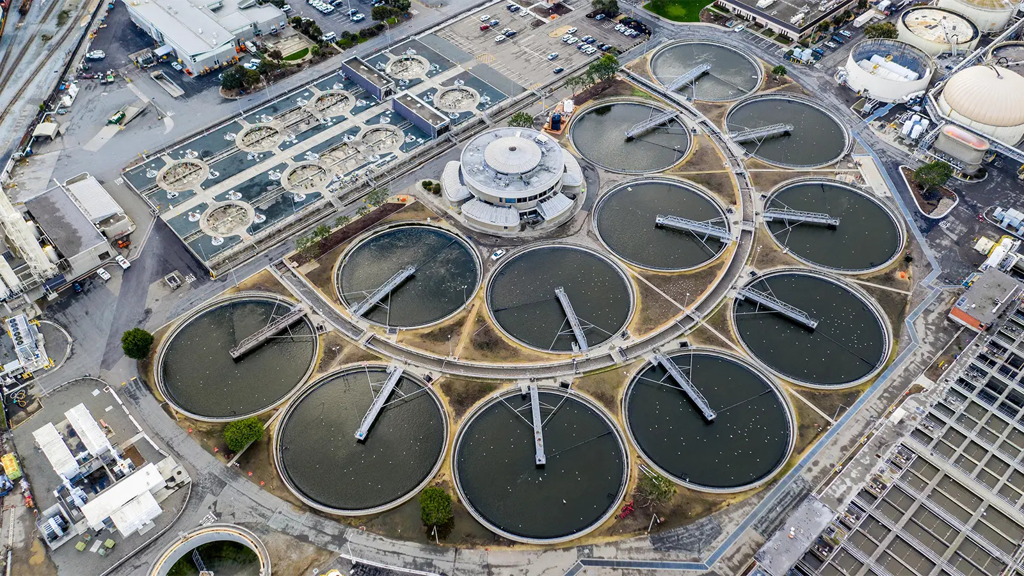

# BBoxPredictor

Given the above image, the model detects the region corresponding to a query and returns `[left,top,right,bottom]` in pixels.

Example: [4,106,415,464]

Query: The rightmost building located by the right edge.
[942,265,1024,343]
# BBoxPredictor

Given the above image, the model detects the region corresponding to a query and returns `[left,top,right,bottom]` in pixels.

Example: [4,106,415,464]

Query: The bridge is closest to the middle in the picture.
[548,284,611,359]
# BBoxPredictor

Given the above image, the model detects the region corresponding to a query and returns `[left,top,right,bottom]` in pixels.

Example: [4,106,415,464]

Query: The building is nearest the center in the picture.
[442,126,586,231]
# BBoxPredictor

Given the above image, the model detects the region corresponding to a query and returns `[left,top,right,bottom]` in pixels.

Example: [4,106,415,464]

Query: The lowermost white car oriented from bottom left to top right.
[490,248,507,261]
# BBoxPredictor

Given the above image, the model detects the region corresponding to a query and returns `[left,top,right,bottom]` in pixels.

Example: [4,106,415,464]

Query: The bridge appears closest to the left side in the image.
[228,298,314,357]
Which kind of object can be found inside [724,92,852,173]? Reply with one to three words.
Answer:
storage tank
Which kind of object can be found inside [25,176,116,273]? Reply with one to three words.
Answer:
building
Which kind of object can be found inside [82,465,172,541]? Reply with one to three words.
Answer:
shed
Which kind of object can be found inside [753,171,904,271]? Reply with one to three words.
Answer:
storage tank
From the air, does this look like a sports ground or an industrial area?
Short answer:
industrial area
